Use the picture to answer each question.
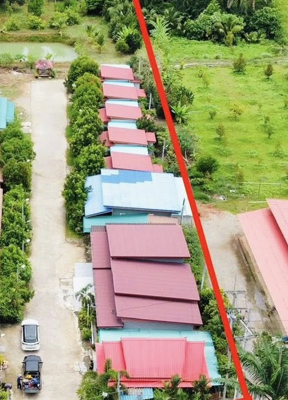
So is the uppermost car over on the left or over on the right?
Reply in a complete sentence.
The uppermost car is on the left side of the image.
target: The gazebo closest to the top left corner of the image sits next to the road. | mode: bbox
[34,54,56,78]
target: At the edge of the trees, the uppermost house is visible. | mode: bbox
[96,63,133,92]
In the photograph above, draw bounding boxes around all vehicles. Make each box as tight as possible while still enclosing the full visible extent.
[21,355,44,399]
[20,322,40,354]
